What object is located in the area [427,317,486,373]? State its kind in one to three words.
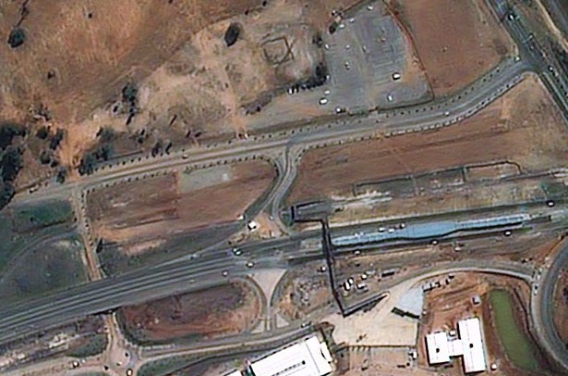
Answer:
building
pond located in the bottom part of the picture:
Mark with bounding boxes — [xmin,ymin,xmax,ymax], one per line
[493,289,537,370]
